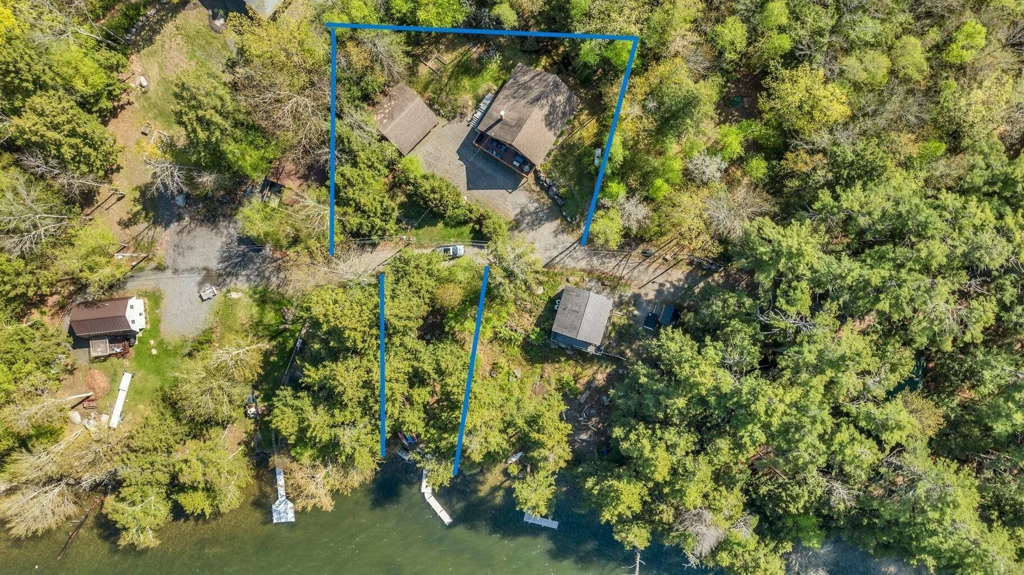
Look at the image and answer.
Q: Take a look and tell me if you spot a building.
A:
Yes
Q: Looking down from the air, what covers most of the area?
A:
trees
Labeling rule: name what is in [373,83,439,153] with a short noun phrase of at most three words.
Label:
building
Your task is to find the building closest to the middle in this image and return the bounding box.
[552,286,613,355]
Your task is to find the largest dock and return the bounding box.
[271,449,296,523]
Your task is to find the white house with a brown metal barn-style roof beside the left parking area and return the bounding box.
[69,297,146,338]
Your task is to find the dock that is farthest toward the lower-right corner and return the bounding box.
[523,511,558,529]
